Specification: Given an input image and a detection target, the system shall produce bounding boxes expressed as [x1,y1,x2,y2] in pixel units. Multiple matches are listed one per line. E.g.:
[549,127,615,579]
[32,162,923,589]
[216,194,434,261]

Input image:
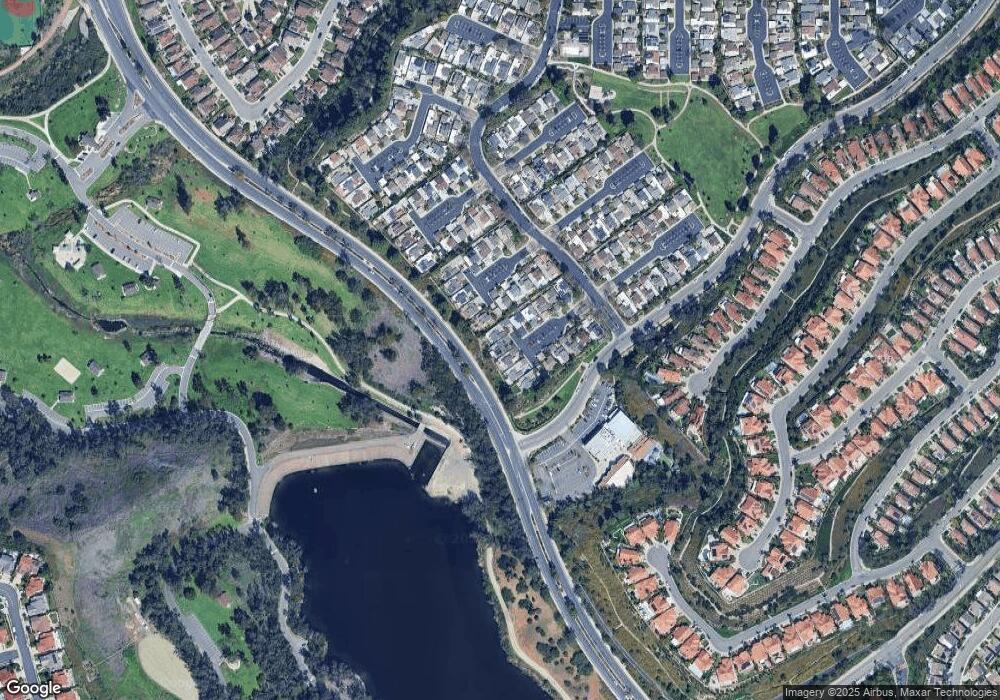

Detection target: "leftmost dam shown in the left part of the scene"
[249,435,416,520]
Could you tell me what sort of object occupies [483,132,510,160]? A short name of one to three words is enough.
house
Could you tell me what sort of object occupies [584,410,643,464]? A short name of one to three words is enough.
building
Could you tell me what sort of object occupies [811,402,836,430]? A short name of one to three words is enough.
house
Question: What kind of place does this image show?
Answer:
residential area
